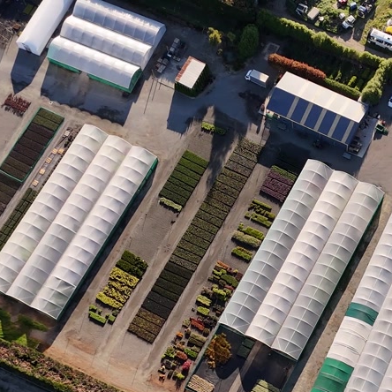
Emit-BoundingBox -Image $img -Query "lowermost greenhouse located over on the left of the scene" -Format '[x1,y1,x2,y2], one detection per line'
[0,125,158,321]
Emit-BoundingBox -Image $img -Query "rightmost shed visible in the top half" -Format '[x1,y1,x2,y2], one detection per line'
[263,71,370,152]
